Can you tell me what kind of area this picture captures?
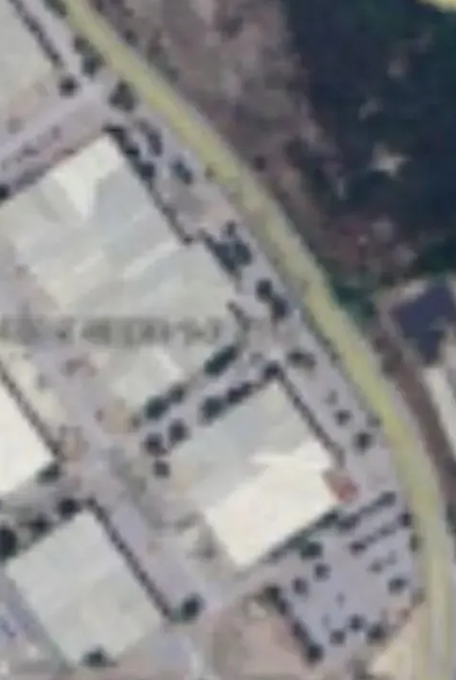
industrial area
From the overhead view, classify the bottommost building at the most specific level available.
warehouse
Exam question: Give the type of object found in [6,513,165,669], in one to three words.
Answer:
warehouse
